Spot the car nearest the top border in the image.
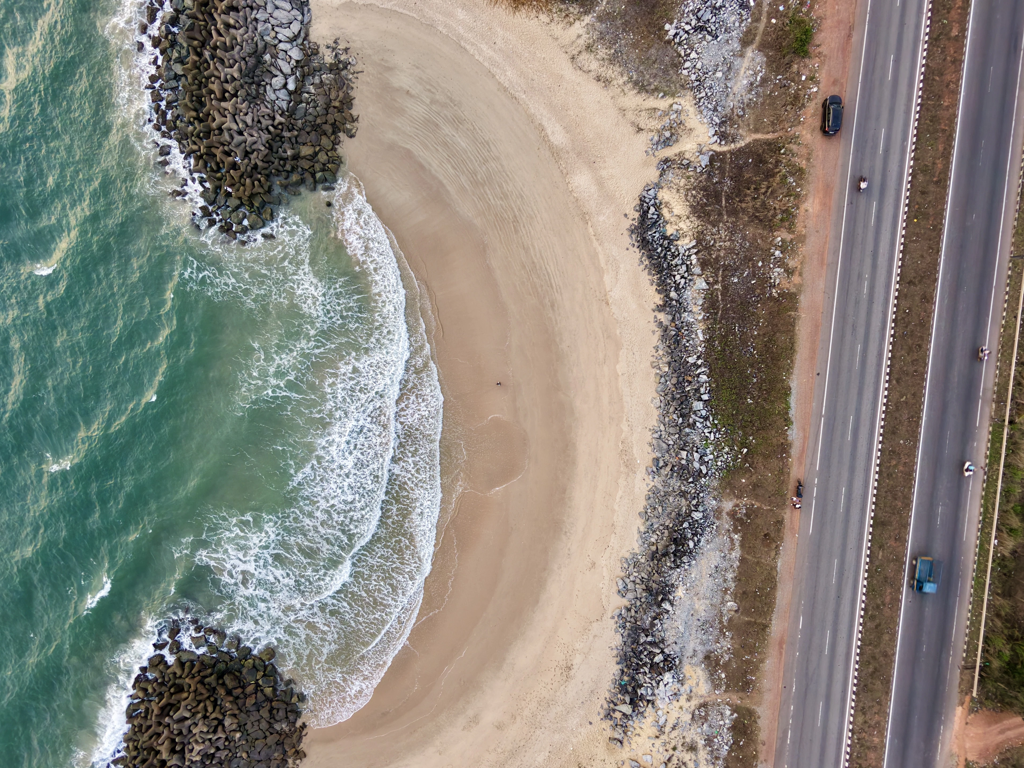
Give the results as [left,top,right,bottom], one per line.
[823,94,846,135]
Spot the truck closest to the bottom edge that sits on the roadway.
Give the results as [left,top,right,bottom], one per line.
[915,560,942,598]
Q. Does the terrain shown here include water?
Yes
